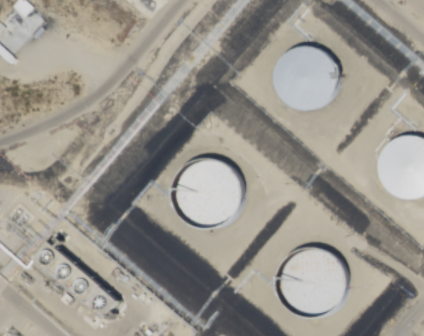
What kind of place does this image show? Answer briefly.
industrial area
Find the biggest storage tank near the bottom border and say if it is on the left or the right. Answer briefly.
right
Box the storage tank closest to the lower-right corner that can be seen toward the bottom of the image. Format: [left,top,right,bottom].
[274,246,350,320]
